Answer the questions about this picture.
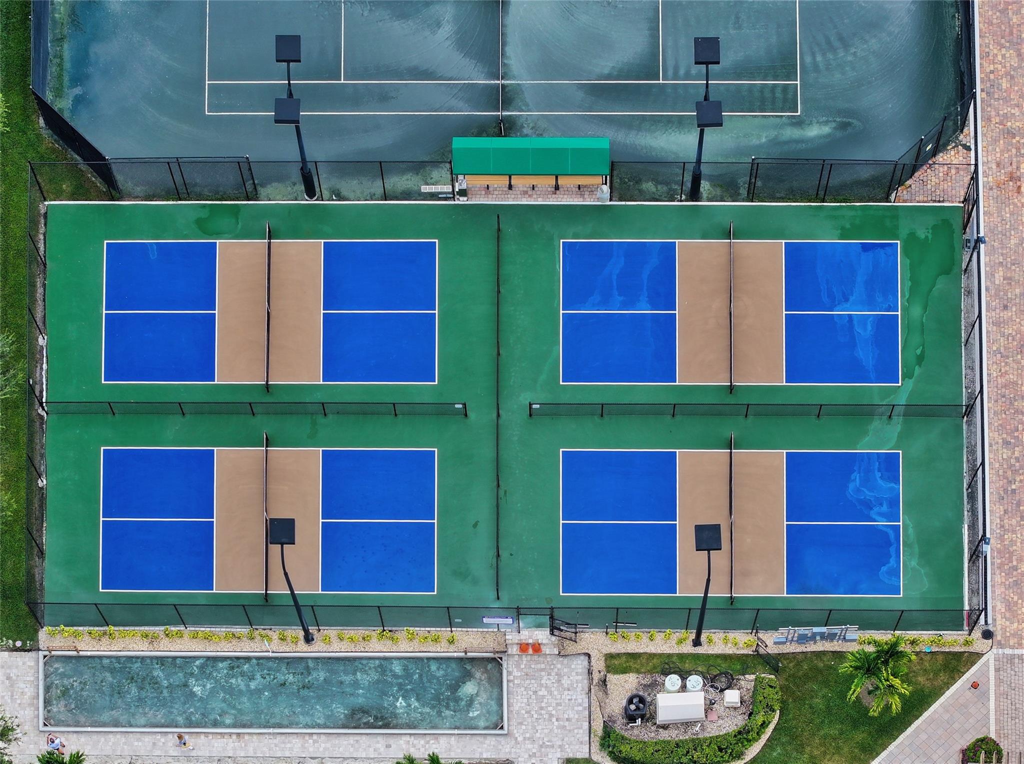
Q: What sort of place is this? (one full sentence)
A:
The picture captures a sports ground.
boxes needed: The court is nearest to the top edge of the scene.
[48,0,962,202]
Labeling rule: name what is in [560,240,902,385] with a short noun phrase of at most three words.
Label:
sports court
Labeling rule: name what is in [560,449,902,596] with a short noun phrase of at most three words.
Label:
sports court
